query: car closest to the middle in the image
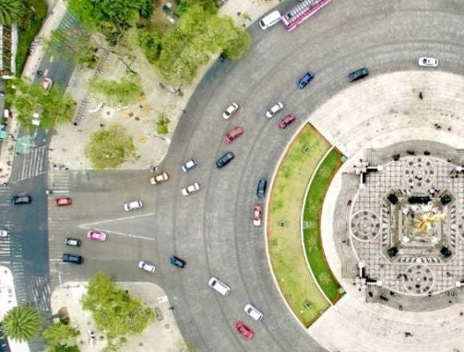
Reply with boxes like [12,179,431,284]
[217,151,235,167]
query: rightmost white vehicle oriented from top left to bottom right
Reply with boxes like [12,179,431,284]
[244,302,264,321]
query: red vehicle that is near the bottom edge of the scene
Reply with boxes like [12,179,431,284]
[237,322,256,340]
